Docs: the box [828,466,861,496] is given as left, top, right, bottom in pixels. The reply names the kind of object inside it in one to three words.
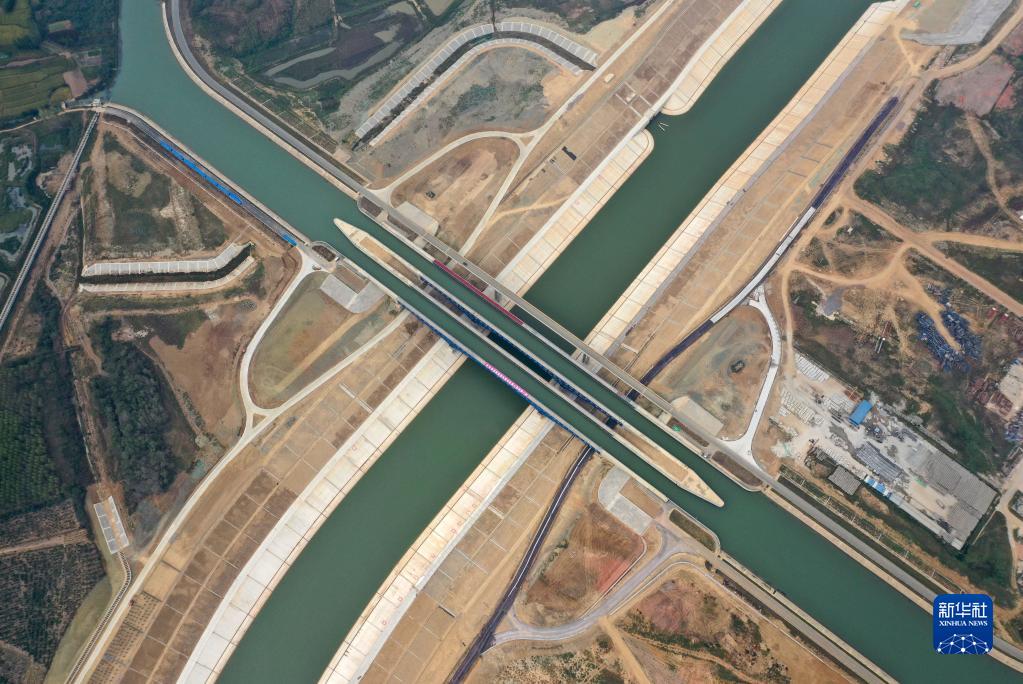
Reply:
shed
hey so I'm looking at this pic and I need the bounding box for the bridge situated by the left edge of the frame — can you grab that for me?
[0,112,100,333]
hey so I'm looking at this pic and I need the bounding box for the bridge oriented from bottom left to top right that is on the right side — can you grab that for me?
[623,76,681,148]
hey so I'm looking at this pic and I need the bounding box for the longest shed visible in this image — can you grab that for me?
[886,494,958,549]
